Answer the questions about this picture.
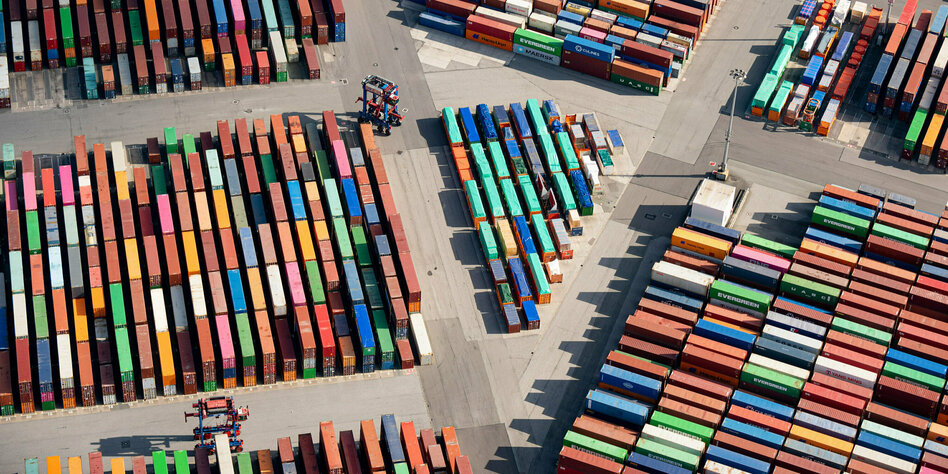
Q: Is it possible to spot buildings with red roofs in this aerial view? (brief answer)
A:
No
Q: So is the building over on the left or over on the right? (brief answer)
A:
right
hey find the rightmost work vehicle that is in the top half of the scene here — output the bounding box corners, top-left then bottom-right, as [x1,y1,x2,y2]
[354,74,406,138]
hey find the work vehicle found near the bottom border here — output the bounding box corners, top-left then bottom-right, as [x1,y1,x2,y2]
[177,394,251,453]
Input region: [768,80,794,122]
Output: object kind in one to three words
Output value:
shipping container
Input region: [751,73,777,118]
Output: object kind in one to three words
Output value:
shipping container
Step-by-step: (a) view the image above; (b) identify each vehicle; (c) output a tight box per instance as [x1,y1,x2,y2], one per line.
[354,74,406,138]
[177,394,251,453]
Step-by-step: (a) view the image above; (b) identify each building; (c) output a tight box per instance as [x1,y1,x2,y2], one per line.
[692,179,736,229]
